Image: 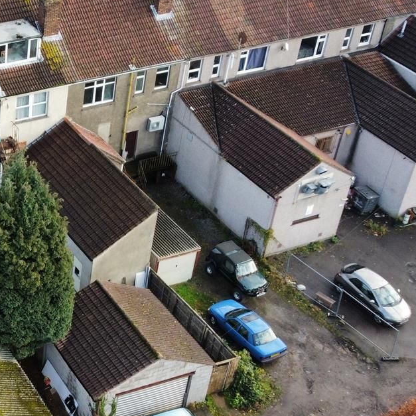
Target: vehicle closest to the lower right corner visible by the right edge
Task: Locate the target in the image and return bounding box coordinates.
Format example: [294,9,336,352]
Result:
[333,264,416,329]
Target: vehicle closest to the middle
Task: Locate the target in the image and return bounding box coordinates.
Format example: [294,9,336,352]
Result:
[207,236,278,303]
